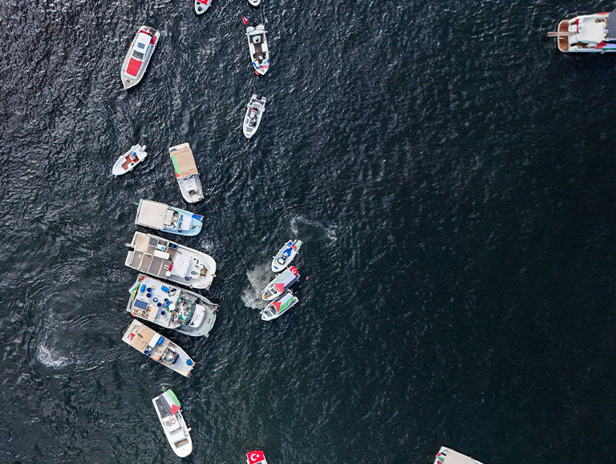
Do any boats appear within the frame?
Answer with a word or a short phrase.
Yes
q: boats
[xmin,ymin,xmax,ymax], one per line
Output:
[273,238,301,271]
[262,289,297,320]
[111,144,146,175]
[195,0,212,15]
[245,91,268,142]
[543,12,616,54]
[122,319,195,378]
[125,233,216,288]
[432,446,485,464]
[124,25,159,91]
[169,144,199,203]
[247,23,271,75]
[135,200,203,234]
[127,276,220,331]
[153,388,191,458]
[263,265,300,299]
